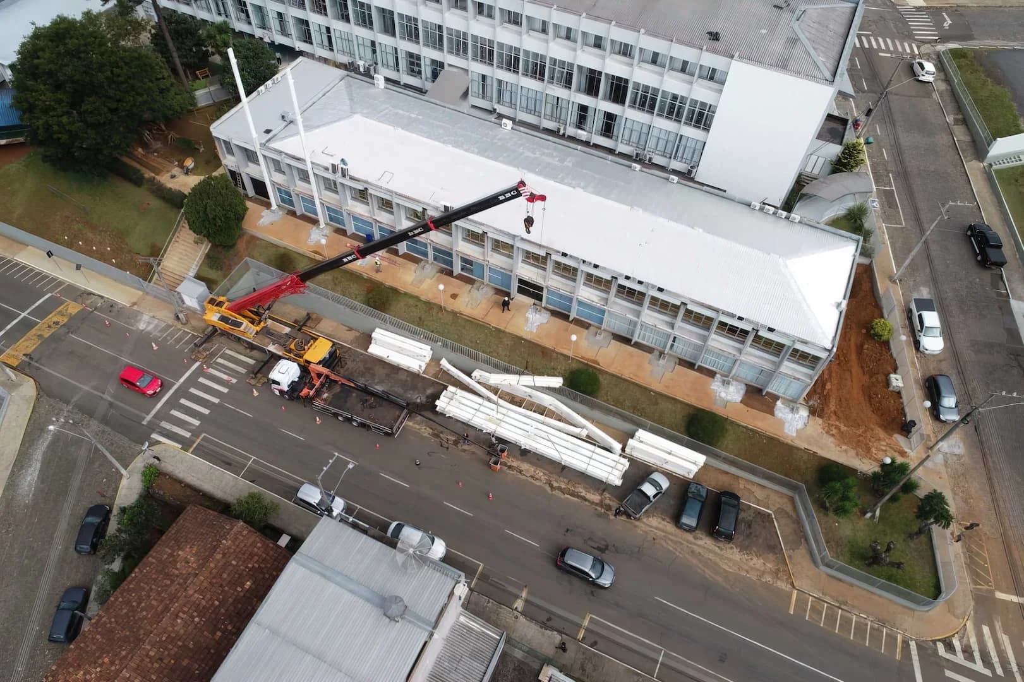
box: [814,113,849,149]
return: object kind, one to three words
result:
shed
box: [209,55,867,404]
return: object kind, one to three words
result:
building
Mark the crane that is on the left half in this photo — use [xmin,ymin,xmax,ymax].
[191,179,546,387]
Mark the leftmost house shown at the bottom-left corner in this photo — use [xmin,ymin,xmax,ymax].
[43,503,290,682]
